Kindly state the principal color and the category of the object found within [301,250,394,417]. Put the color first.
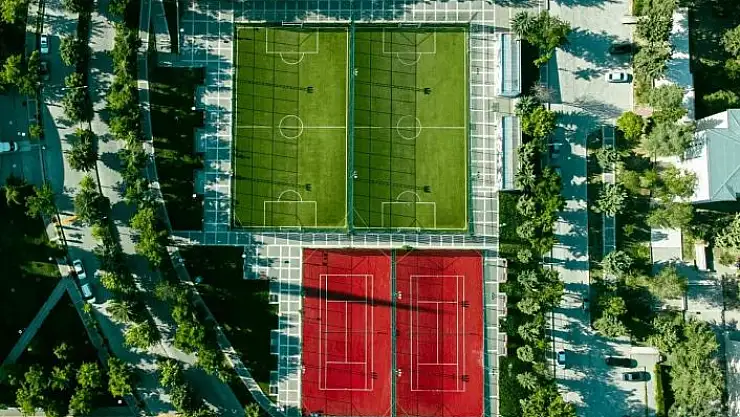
red tennis court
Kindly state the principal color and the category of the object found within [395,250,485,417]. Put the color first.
red tennis court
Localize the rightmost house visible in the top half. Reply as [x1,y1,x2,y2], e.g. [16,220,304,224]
[684,108,740,207]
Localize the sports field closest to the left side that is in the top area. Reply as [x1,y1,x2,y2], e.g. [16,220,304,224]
[233,23,351,231]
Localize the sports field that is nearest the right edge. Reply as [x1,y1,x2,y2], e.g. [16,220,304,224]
[351,23,468,231]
